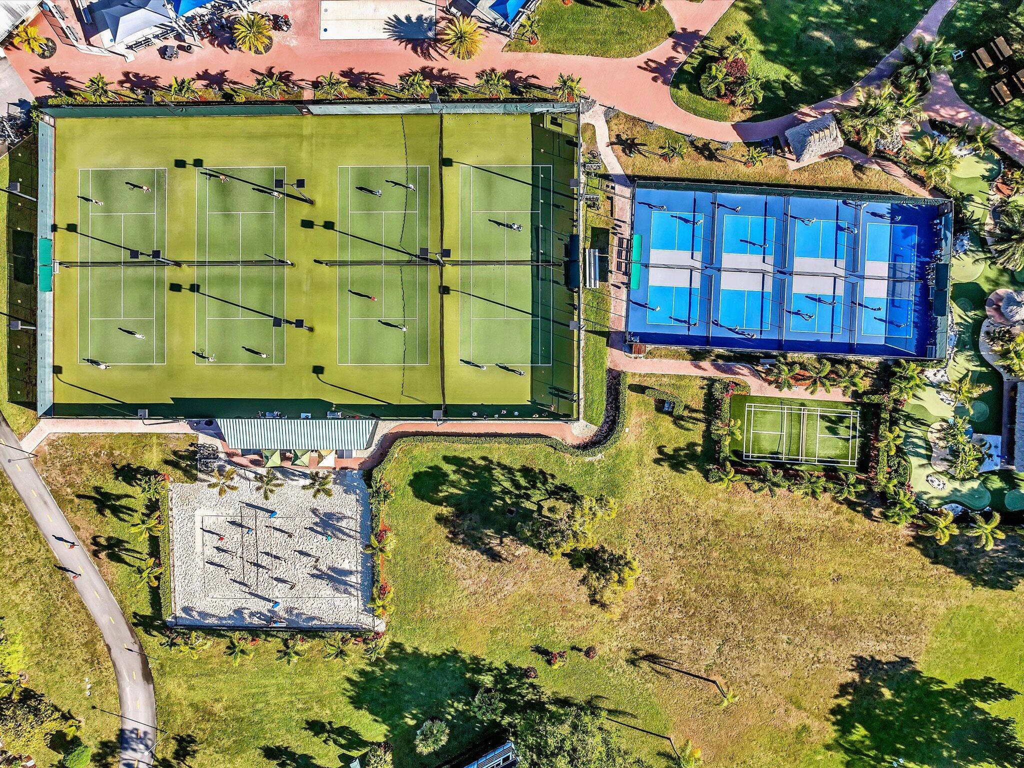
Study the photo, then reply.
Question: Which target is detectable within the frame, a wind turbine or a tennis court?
tennis court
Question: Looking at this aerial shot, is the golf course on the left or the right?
right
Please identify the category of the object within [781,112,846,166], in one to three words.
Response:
shed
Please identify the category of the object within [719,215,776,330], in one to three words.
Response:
sports court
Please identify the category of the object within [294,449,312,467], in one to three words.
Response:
umbrella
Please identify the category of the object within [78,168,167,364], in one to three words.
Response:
tennis court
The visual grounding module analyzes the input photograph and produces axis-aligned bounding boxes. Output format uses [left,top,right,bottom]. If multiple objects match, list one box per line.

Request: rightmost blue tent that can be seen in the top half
[488,0,531,38]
